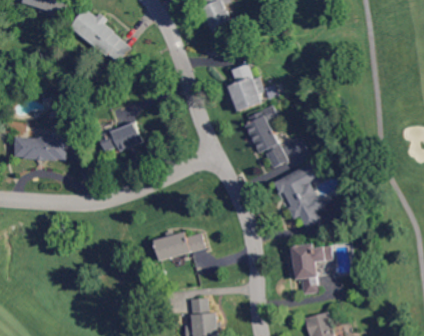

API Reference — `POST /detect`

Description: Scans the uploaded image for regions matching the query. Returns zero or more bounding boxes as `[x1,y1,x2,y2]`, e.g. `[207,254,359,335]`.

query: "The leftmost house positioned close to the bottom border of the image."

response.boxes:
[192,298,220,336]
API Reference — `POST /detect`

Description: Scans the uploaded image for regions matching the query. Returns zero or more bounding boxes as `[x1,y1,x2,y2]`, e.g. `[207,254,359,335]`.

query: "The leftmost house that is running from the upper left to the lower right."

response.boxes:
[74,11,130,58]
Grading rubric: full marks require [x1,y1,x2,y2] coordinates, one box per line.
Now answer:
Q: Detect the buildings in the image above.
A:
[206,0,230,24]
[154,232,209,260]
[275,170,326,220]
[307,310,337,336]
[248,104,290,168]
[101,122,144,152]
[229,62,266,111]
[74,11,130,58]
[14,137,68,161]
[22,0,64,10]
[192,298,220,336]
[292,245,334,295]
